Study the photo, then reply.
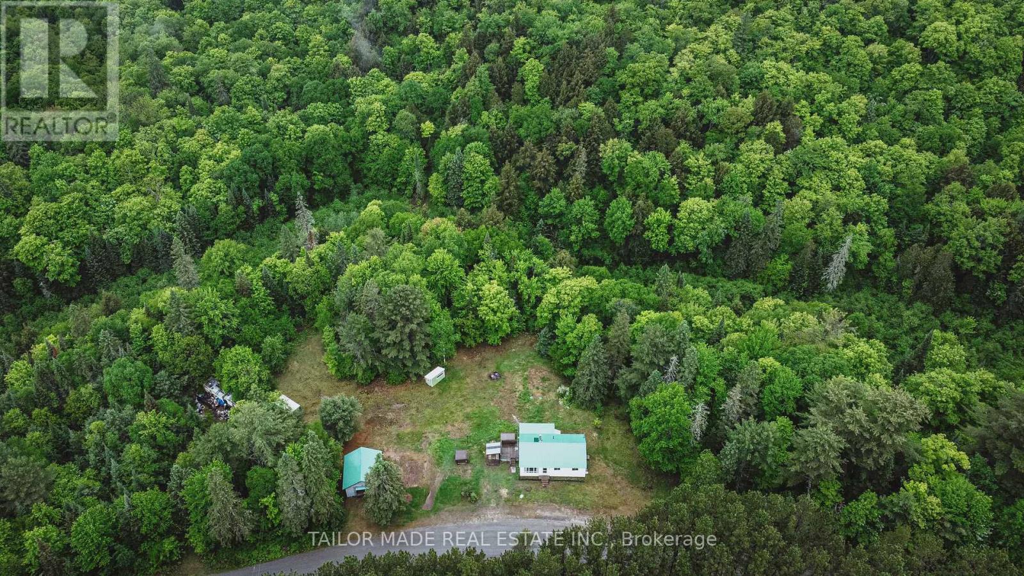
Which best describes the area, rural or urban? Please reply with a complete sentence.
This place is rural.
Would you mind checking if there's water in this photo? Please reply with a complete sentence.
No, the picture contains no water.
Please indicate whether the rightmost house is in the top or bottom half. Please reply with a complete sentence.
The rightmost house is in the bottom half of the image.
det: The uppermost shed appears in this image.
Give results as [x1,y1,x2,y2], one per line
[424,365,445,388]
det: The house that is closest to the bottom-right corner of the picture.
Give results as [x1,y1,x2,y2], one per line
[519,423,587,481]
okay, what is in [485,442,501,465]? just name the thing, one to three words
shed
